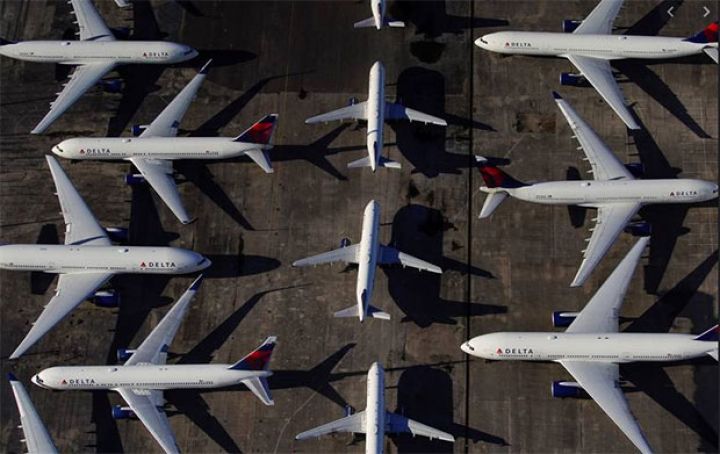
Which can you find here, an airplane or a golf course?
airplane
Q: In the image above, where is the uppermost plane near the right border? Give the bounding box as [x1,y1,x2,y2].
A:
[475,0,720,129]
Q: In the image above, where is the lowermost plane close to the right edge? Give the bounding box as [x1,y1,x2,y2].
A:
[458,235,720,454]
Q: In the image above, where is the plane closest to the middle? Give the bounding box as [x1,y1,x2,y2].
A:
[293,202,439,322]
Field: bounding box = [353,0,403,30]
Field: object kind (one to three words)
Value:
airplane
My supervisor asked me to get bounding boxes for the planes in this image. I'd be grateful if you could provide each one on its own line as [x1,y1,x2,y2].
[0,373,55,454]
[0,153,211,356]
[306,63,446,172]
[297,364,451,454]
[473,88,720,285]
[475,0,720,129]
[34,273,278,454]
[293,202,439,322]
[458,235,720,454]
[0,0,197,133]
[50,58,278,219]
[353,0,403,30]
